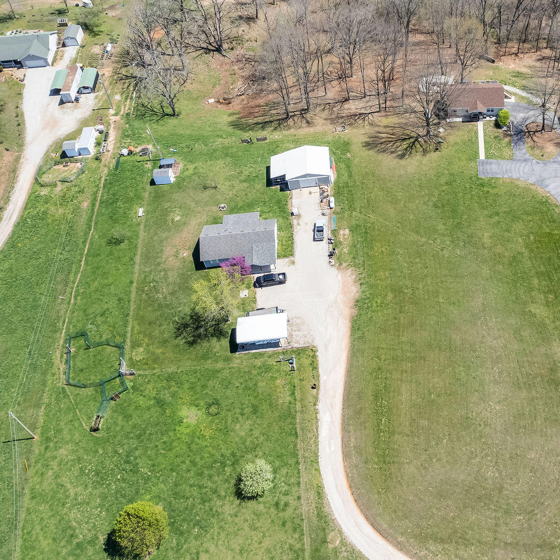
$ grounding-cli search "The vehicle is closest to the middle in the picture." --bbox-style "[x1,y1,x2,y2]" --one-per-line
[255,270,285,285]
